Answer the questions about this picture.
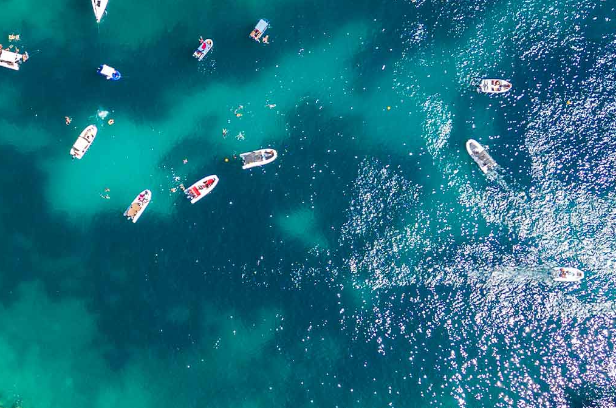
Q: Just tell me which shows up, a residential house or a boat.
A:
boat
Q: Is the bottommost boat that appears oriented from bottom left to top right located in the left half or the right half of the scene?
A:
left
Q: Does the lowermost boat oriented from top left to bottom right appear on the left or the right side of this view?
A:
right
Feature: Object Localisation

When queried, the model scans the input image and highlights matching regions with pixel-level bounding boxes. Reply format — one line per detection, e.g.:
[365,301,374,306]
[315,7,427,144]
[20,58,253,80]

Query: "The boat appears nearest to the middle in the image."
[240,149,280,168]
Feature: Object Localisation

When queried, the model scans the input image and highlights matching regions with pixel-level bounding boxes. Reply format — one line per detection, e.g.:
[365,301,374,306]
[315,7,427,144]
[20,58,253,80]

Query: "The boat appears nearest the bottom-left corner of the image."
[123,190,152,223]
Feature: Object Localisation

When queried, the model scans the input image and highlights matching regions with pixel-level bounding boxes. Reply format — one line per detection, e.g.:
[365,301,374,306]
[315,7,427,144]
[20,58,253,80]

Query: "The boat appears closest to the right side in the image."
[551,268,585,282]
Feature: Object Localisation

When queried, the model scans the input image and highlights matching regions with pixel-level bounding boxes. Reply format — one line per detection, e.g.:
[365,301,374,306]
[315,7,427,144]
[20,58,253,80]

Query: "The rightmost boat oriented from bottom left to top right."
[248,17,271,42]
